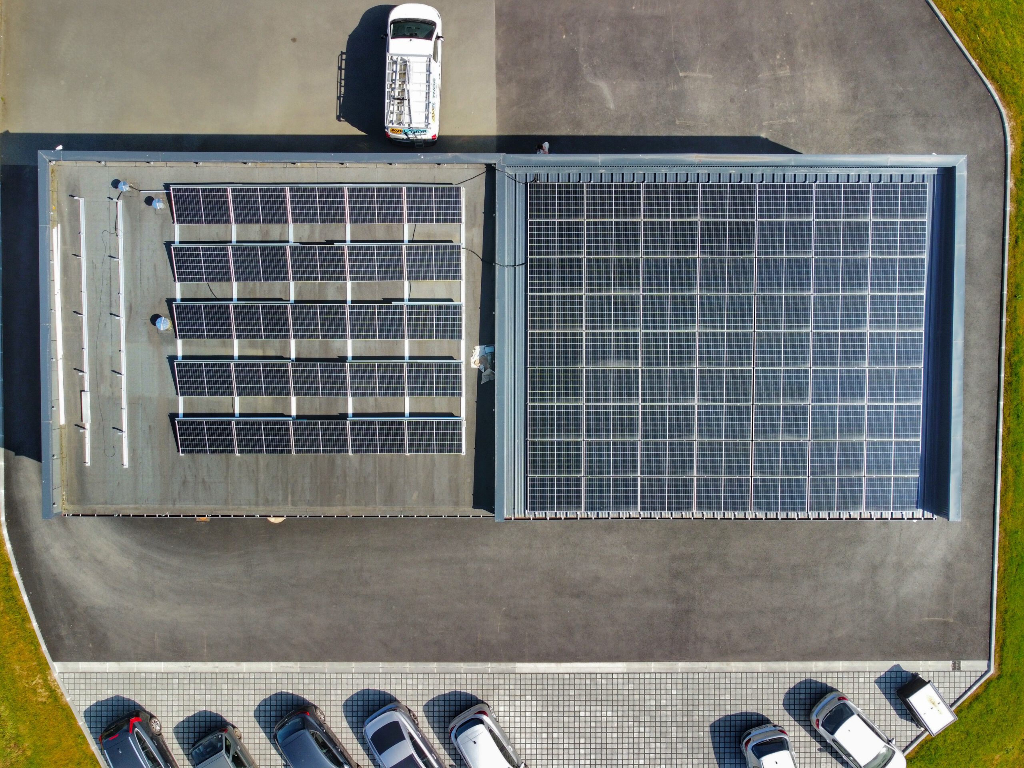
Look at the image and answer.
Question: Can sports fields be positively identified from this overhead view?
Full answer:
No, no sports field can be seen from above.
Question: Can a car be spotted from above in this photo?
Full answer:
Yes, there's a car here.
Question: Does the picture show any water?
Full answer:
No, the scene doesn't show any water.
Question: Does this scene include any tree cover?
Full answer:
No, there is no tree cover in the image.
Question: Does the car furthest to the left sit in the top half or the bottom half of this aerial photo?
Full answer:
The car furthest to the left sits in the bottom half of the picture.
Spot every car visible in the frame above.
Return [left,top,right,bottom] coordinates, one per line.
[190,725,257,768]
[364,705,444,768]
[742,727,801,768]
[811,692,901,768]
[97,711,181,768]
[272,705,359,768]
[450,703,531,768]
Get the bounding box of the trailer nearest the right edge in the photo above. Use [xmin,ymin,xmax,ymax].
[896,673,957,736]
